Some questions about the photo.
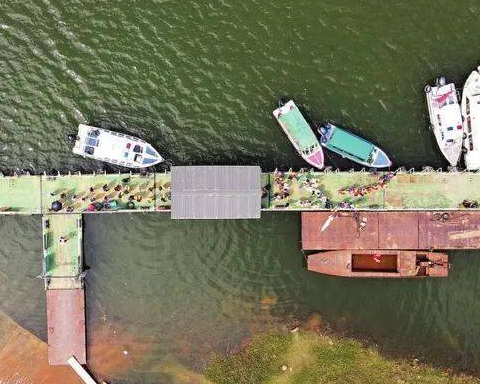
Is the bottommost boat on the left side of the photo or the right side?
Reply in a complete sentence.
You can find the bottommost boat on the right side of the picture.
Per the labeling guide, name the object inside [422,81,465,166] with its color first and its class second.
white boat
